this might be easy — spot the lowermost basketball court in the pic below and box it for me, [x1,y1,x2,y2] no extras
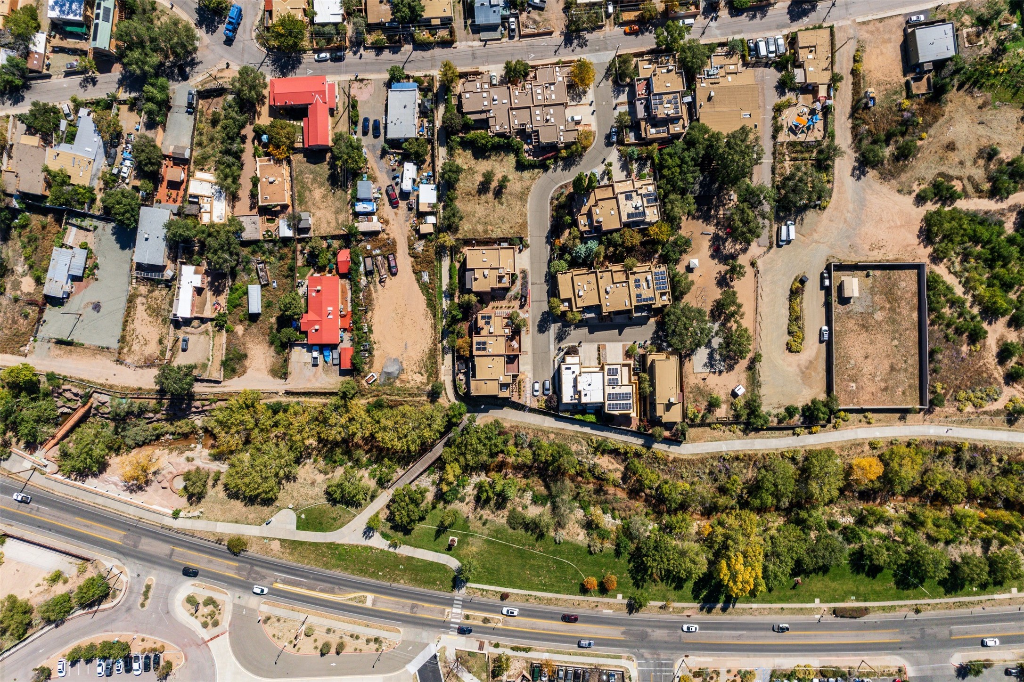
[693,346,729,373]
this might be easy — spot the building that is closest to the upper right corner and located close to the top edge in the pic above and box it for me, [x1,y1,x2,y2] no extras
[902,19,956,71]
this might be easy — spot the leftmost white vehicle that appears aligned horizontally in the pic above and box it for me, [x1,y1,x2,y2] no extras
[13,492,33,504]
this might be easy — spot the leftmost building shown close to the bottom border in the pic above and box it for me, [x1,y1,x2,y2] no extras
[407,642,446,682]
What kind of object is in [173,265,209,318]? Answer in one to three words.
house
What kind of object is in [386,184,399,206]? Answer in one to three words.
vehicle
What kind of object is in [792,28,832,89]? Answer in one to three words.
building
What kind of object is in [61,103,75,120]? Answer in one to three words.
car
